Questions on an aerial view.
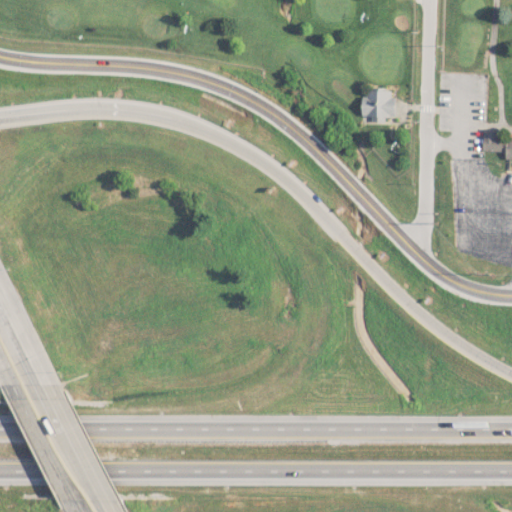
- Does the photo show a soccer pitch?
No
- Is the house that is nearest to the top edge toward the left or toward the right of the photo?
right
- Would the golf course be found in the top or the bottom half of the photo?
top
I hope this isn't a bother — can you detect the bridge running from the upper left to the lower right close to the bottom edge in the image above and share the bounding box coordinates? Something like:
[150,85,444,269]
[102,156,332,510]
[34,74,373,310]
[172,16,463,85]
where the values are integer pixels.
[0,383,126,512]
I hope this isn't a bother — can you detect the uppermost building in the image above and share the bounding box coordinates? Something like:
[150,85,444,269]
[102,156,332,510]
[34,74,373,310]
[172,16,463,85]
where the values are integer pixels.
[362,88,396,122]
